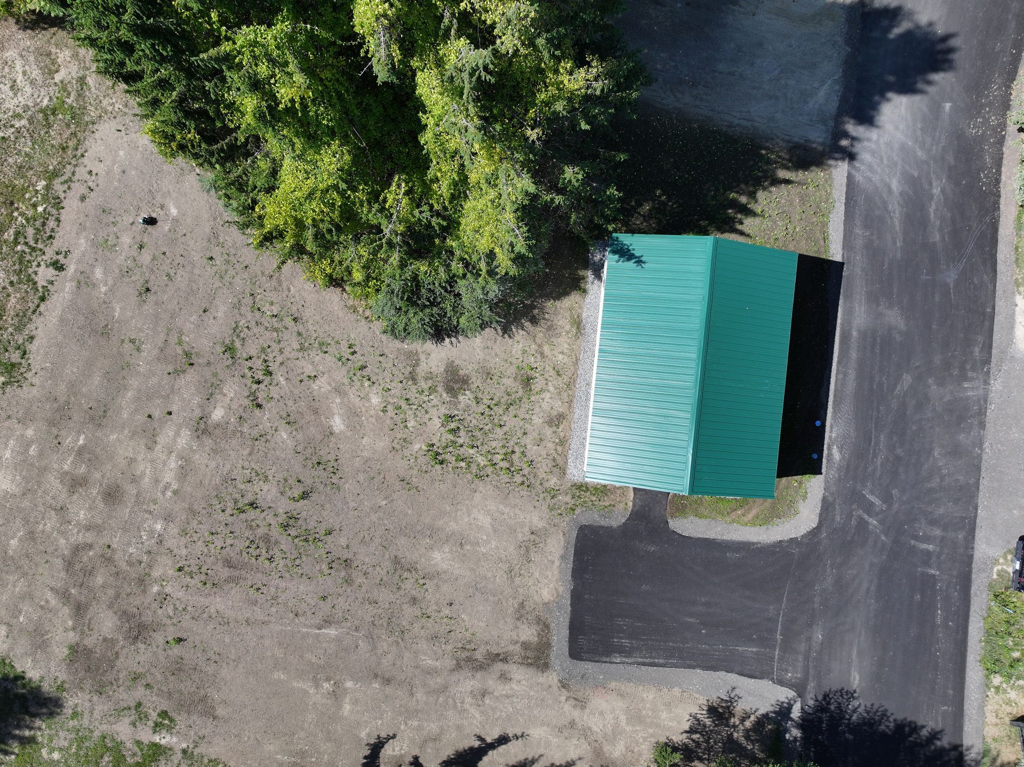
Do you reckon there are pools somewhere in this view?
No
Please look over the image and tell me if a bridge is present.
No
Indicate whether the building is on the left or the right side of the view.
right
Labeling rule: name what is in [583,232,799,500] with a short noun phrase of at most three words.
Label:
building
